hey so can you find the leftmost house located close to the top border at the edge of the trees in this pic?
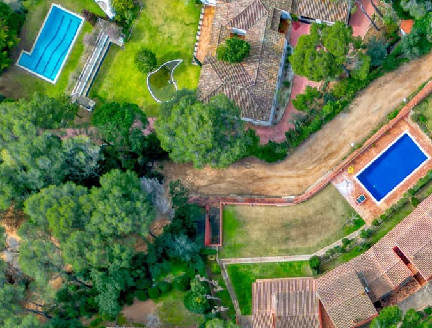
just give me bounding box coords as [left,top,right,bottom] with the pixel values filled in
[194,0,352,127]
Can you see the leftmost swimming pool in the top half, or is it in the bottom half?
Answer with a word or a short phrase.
top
